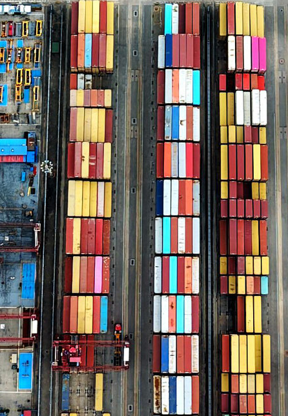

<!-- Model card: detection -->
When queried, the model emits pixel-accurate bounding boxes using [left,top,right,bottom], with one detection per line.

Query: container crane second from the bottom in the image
[0,308,42,342]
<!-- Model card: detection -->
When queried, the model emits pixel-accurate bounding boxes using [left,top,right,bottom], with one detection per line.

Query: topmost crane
[0,223,44,255]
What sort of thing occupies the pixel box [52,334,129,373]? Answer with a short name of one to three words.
container crane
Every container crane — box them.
[0,308,42,342]
[0,223,44,255]
[52,334,129,373]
